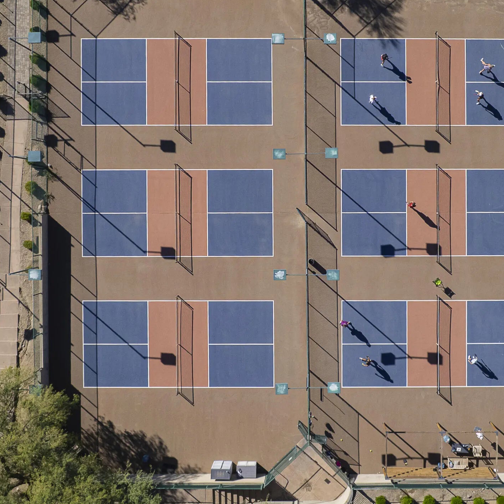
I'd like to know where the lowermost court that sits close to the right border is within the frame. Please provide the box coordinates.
[341,300,504,388]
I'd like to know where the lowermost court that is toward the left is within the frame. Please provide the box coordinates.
[83,300,274,388]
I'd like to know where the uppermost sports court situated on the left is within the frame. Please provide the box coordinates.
[81,38,273,125]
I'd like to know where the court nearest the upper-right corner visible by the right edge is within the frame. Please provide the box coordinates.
[340,38,504,125]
